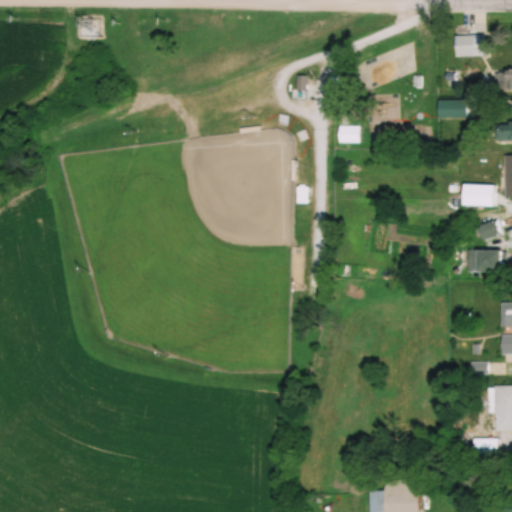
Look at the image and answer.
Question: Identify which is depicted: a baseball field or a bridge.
baseball field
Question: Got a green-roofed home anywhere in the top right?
Yes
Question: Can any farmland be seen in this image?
Yes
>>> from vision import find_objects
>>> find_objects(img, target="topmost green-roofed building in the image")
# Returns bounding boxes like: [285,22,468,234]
[436,100,468,118]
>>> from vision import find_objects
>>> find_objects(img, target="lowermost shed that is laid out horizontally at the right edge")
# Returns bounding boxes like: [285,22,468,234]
[472,438,500,450]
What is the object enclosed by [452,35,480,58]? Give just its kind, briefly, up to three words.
house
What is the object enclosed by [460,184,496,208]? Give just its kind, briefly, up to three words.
building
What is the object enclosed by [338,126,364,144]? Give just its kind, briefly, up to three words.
building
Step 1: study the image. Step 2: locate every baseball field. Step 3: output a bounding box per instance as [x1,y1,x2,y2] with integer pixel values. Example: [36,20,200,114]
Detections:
[62,132,306,374]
